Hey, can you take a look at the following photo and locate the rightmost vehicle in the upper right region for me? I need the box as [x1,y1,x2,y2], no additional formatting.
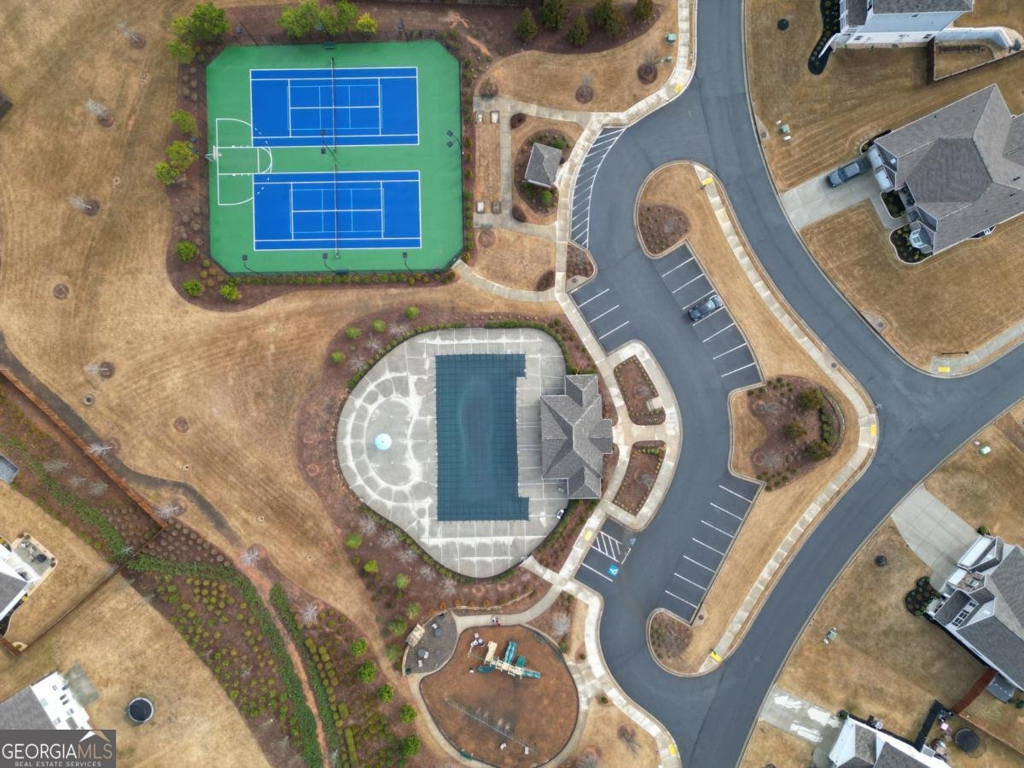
[822,157,871,191]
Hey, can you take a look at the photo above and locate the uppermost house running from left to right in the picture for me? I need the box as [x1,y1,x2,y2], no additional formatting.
[818,0,974,63]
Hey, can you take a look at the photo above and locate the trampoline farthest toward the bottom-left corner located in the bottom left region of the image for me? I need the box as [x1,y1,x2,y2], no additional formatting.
[128,697,155,723]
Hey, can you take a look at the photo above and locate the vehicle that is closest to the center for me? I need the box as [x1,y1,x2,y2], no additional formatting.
[687,295,722,323]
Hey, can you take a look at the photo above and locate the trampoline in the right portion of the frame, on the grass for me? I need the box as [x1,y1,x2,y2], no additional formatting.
[952,726,979,752]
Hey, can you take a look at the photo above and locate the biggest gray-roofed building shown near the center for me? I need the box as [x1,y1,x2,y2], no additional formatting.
[540,375,614,498]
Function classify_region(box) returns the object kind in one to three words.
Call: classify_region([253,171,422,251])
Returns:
tennis court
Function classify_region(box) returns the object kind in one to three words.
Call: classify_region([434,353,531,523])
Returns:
swimming pool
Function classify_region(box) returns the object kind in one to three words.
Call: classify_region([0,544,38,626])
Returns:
house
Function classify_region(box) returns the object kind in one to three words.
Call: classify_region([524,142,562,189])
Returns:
shed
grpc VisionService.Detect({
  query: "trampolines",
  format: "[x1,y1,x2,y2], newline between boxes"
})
[952,726,979,752]
[128,697,155,723]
